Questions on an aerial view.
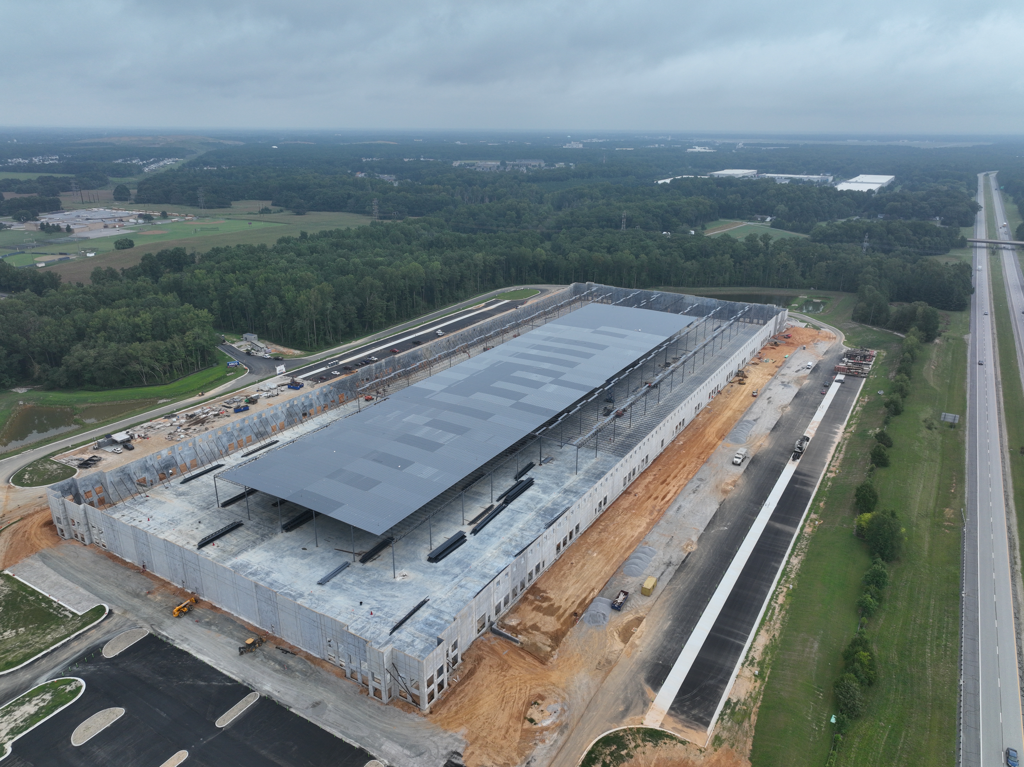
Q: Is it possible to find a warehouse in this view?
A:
Yes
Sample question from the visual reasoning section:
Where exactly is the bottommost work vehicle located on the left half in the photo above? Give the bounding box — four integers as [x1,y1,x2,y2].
[234,636,270,658]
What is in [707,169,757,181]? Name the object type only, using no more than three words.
building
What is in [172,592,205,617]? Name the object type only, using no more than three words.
work vehicle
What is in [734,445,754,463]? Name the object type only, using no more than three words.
vehicle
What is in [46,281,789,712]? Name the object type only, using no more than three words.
warehouse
